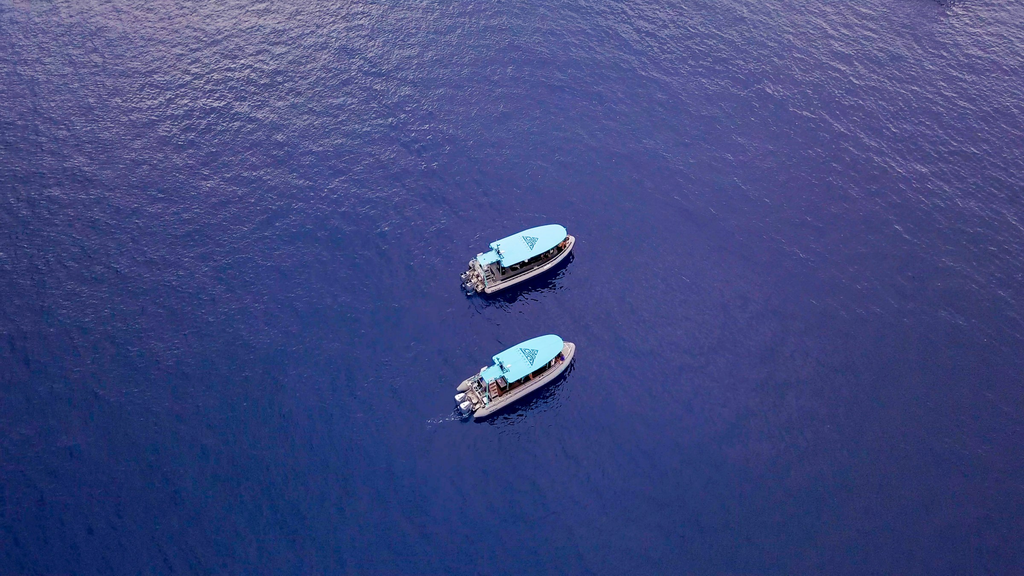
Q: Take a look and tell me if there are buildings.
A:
No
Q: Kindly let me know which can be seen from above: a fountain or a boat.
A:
boat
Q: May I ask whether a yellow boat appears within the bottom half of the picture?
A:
No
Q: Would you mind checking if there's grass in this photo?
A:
No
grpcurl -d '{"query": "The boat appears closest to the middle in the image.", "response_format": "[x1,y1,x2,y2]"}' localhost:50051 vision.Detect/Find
[460,225,575,295]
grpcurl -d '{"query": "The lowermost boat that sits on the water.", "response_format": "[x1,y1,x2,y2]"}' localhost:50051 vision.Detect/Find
[454,336,576,418]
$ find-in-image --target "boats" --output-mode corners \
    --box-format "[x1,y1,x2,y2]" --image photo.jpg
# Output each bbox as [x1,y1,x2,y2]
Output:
[460,225,575,295]
[454,336,576,418]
